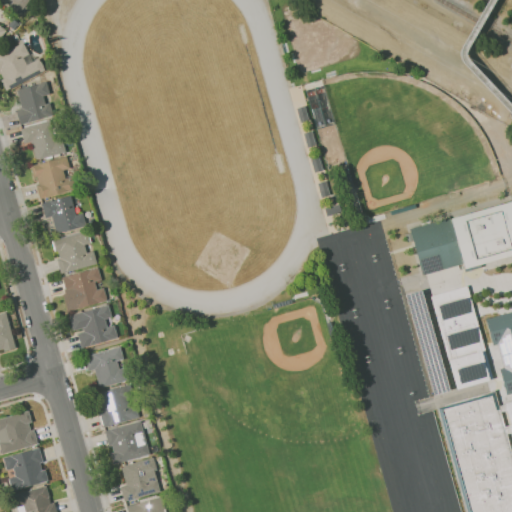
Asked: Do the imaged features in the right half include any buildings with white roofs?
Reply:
Yes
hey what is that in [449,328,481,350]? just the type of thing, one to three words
solar panel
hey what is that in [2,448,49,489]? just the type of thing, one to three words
house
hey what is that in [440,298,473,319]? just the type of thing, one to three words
solar panel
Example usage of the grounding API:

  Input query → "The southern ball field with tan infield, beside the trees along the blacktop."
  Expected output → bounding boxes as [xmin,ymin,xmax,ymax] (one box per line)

[188,299,358,443]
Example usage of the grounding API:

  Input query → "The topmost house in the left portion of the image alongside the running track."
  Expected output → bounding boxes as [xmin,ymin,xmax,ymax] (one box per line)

[0,50,46,89]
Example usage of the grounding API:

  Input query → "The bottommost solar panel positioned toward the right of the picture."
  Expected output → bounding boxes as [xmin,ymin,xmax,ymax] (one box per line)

[460,364,488,384]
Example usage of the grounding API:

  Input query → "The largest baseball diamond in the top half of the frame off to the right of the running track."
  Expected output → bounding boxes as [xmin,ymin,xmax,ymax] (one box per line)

[326,72,506,216]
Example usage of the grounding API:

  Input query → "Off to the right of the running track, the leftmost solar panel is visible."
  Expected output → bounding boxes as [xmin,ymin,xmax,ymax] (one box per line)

[422,252,445,272]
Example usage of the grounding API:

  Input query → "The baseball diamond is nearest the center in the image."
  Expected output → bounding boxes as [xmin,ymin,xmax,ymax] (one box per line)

[195,232,251,287]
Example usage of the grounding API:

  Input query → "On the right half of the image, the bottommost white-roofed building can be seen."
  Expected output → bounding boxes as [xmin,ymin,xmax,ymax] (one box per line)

[437,390,512,512]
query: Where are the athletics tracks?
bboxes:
[65,0,322,316]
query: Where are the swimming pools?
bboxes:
[30,34,42,54]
